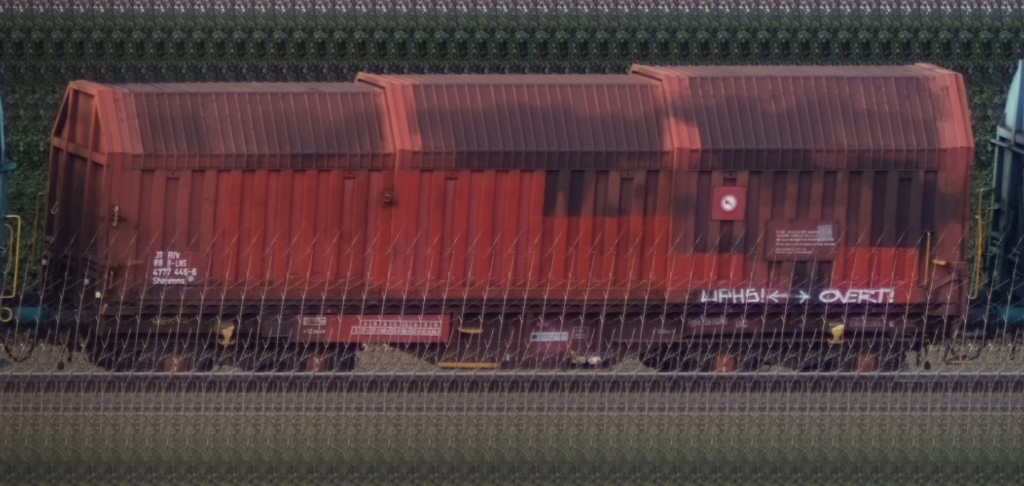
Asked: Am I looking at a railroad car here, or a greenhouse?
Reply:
railroad car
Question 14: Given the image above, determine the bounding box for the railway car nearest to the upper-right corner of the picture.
[965,57,1024,362]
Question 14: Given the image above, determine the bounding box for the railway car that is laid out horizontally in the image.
[0,61,1003,386]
